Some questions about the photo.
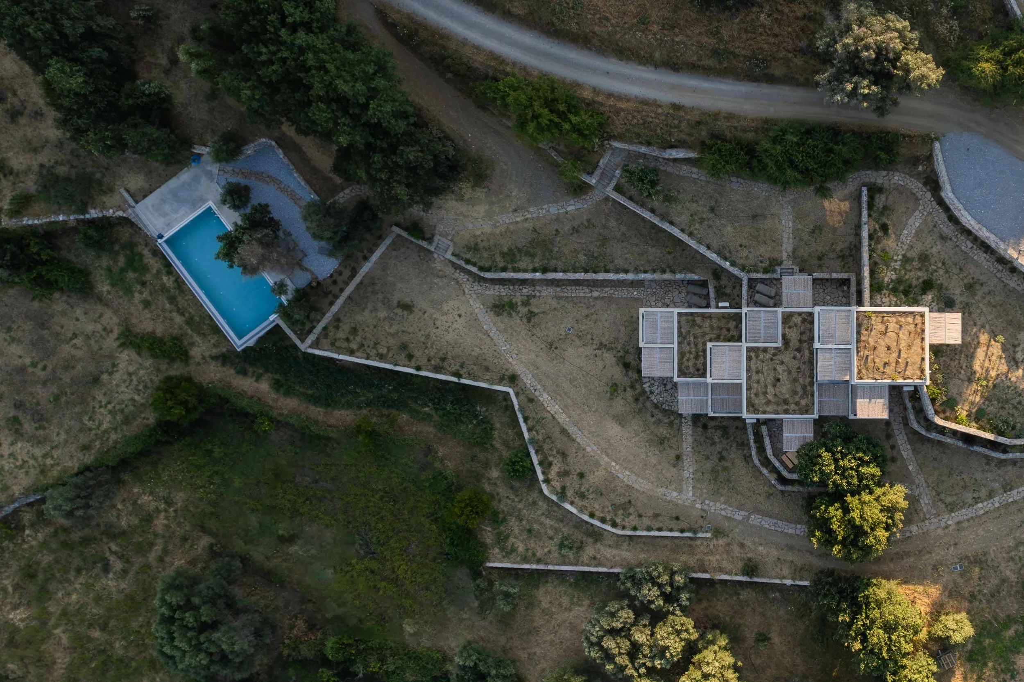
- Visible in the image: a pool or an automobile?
pool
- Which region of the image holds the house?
right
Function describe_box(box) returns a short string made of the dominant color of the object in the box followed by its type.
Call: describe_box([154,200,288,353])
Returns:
blue swimming pool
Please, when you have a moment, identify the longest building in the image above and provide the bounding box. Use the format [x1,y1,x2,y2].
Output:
[636,306,931,419]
